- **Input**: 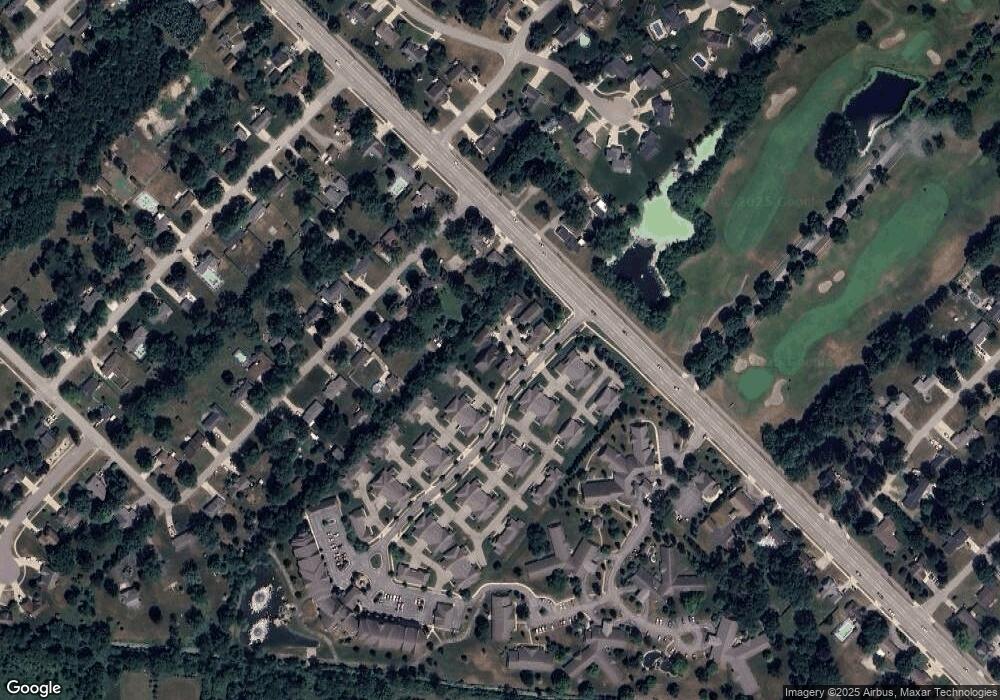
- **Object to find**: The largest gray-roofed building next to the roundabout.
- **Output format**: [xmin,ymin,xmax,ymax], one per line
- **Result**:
[289,531,368,634]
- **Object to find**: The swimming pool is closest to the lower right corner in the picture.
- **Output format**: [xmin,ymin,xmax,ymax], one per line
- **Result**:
[834,619,856,641]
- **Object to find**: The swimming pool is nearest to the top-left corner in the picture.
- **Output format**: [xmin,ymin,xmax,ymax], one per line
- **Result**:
[135,190,159,213]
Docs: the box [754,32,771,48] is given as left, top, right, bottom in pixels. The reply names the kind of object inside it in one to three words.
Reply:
swimming pool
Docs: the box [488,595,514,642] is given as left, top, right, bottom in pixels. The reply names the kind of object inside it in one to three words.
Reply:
building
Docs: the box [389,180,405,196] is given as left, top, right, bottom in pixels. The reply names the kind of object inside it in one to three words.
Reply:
swimming pool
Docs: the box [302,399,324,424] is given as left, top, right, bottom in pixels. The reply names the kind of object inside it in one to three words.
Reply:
house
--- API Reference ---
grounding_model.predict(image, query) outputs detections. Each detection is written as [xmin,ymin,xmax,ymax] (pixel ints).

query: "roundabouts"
[357,544,394,578]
